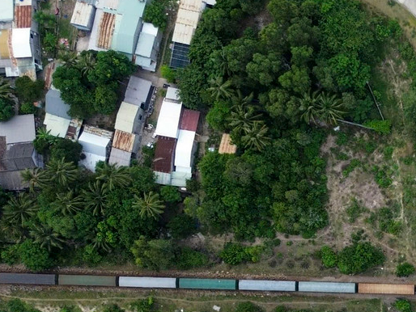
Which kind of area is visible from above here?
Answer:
residential area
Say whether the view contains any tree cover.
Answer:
Yes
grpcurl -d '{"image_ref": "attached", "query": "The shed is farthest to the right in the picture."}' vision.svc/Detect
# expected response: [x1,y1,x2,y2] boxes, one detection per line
[218,134,241,155]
